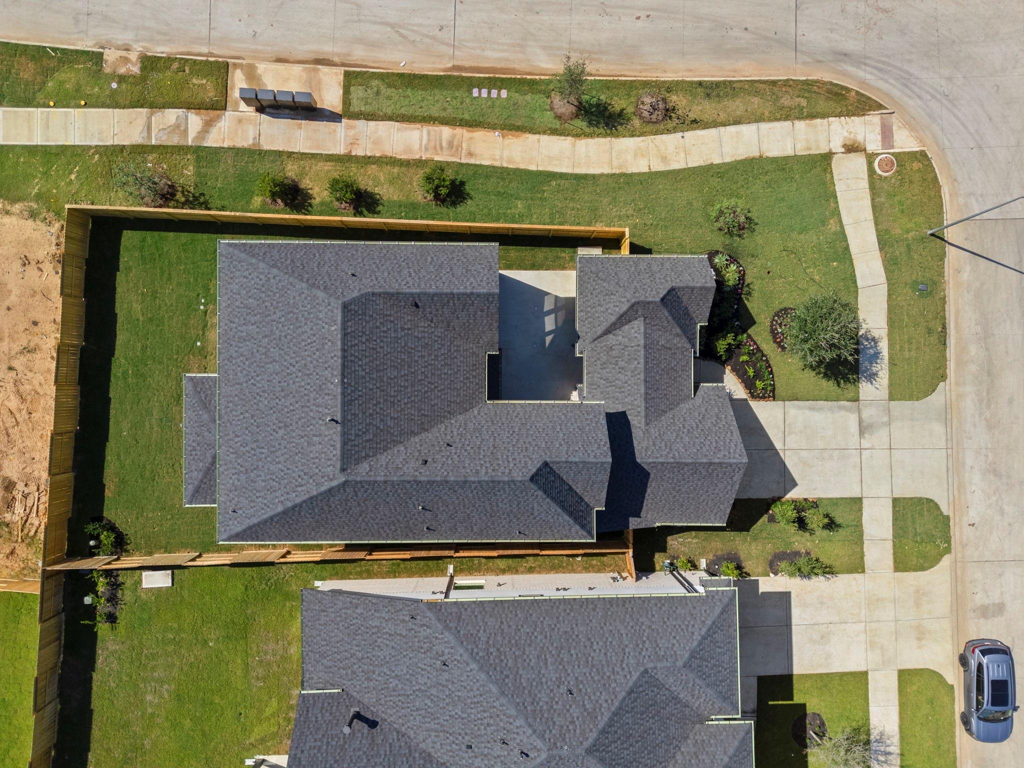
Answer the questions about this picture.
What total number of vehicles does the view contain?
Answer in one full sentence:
I count 1 vehicle.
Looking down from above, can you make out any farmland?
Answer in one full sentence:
No, there is no farmland in the image.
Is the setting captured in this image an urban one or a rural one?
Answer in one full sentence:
From above, the setting appears urban.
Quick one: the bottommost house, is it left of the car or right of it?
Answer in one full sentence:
Relative to the car, the bottommost house lies to the left.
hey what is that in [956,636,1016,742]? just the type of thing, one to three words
car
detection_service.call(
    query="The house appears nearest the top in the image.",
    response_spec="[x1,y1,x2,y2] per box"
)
[183,240,747,544]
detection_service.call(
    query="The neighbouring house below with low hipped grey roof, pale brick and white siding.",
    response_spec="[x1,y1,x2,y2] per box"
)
[292,567,756,768]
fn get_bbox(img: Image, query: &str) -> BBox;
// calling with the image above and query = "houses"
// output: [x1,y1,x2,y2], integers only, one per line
[183,240,747,544]
[292,567,756,768]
